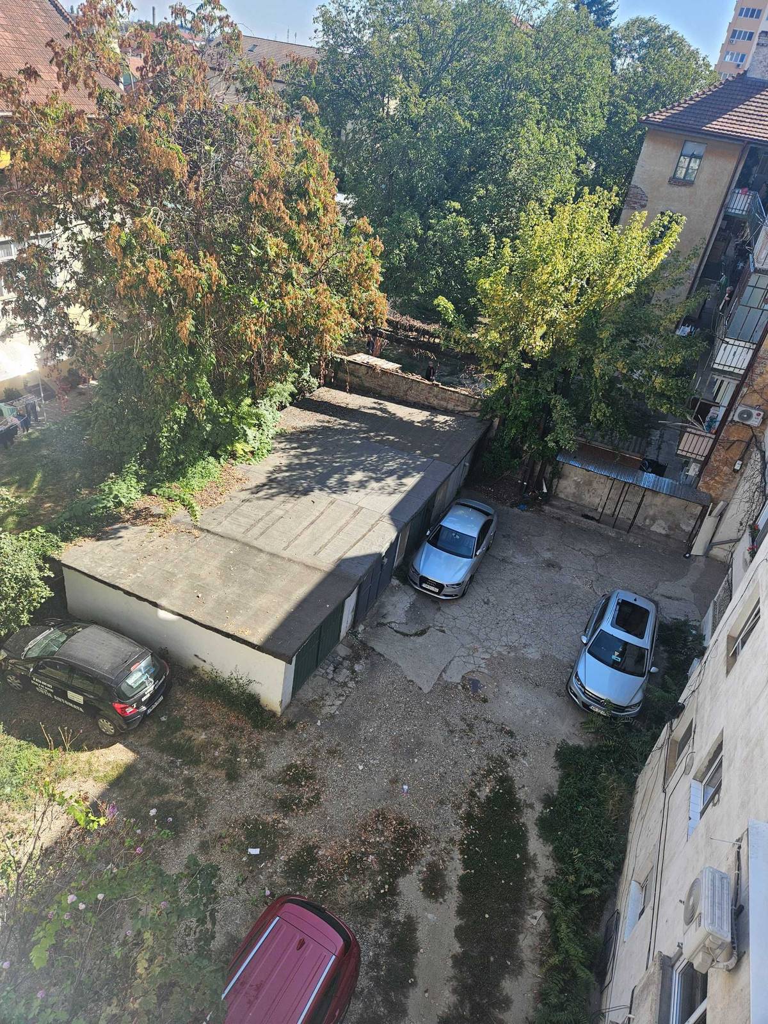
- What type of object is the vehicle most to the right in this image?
automobile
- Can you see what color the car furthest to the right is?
blue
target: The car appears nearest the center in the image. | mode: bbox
[407,497,502,599]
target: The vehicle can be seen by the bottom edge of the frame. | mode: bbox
[196,905,367,1024]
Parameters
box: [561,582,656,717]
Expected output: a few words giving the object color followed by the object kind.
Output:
blue car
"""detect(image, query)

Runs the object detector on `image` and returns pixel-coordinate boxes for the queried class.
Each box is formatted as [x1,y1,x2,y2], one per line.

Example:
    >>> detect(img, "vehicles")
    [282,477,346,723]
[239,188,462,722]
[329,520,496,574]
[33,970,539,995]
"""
[561,582,656,717]
[196,905,367,1024]
[407,497,502,599]
[0,617,178,737]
